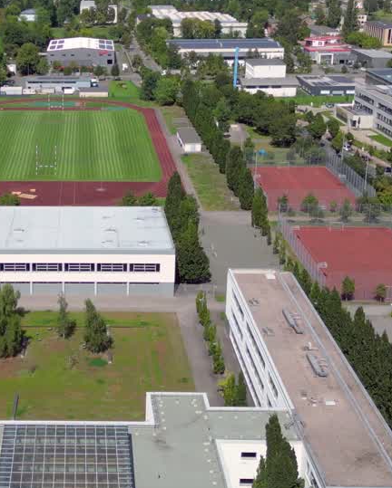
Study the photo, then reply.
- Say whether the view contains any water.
No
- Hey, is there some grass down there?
Yes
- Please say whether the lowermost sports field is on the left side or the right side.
left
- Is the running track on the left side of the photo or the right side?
left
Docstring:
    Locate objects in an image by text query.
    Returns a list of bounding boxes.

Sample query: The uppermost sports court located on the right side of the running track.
[247,166,358,211]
